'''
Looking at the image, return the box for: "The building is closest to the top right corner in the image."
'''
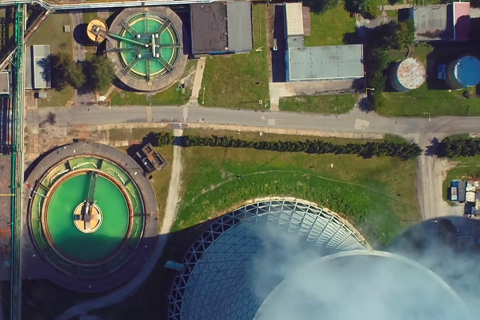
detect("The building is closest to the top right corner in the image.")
[449,1,470,41]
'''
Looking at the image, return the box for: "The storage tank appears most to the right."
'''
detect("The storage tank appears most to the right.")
[446,56,480,88]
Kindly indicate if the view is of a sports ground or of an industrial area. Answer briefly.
industrial area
